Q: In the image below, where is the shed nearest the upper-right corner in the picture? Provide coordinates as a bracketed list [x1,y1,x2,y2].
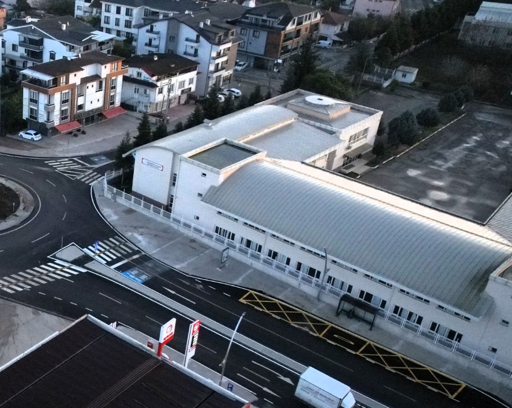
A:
[460,0,512,43]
